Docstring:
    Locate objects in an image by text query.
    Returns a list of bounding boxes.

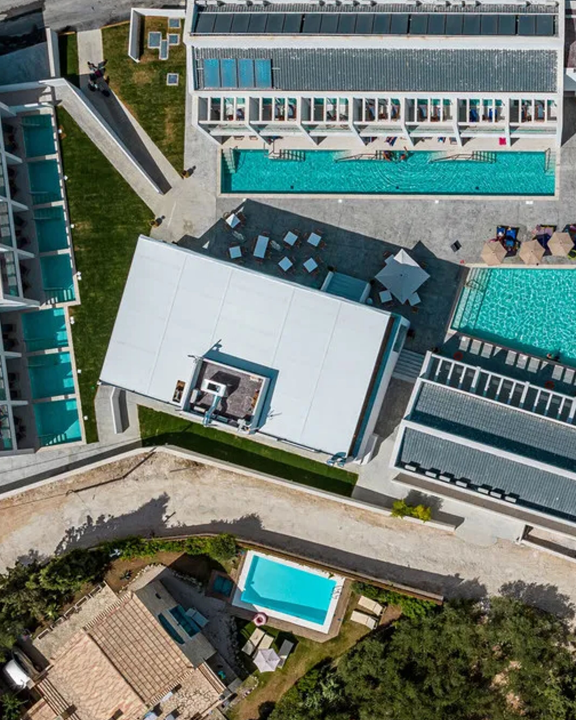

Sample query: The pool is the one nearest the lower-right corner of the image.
[229,543,350,638]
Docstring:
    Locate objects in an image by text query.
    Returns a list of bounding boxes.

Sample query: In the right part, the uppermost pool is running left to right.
[217,144,560,200]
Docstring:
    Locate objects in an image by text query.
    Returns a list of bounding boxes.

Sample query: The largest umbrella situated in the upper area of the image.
[375,248,432,306]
